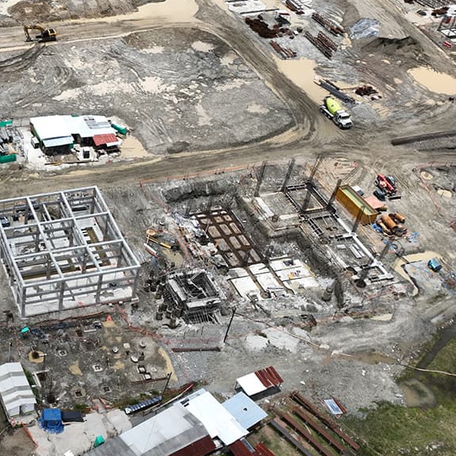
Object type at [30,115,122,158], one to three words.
shed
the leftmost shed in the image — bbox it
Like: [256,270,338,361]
[0,360,43,424]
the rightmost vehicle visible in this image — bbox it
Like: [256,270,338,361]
[374,173,408,198]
